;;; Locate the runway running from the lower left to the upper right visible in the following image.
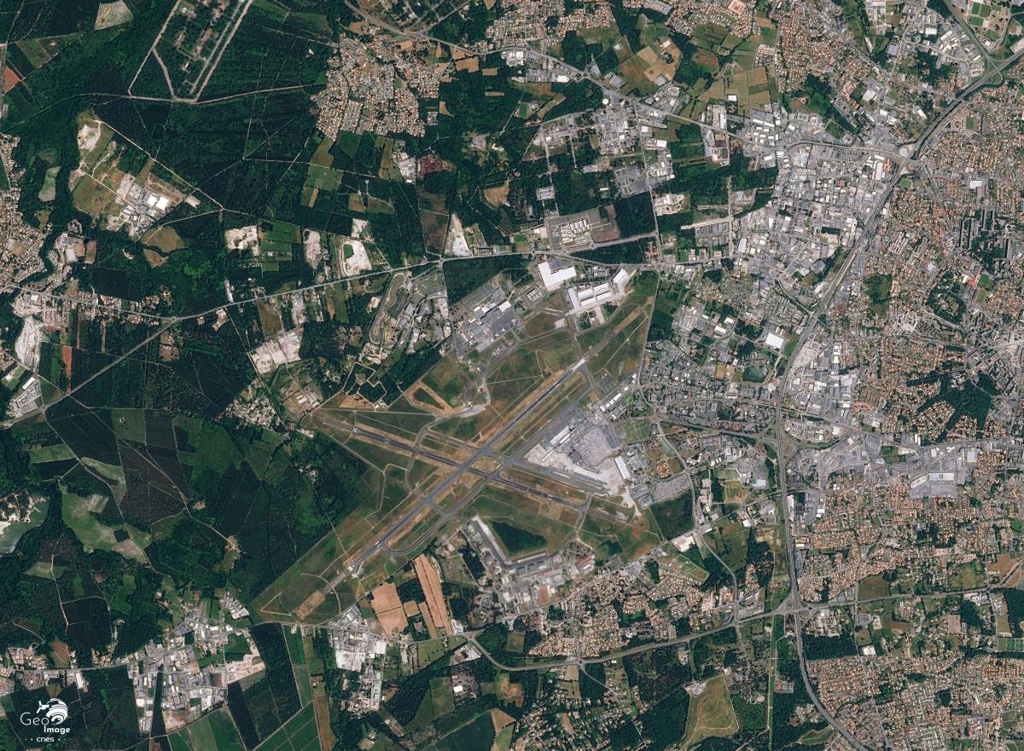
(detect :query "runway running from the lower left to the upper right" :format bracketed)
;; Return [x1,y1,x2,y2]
[355,360,587,567]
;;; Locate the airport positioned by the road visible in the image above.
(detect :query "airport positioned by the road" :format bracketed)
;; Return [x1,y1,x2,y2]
[254,258,664,626]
